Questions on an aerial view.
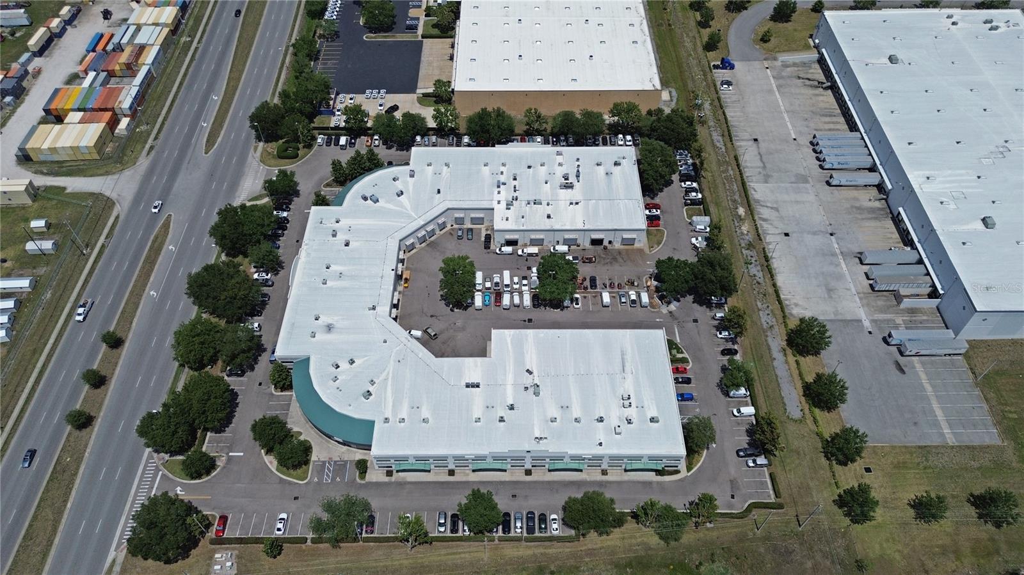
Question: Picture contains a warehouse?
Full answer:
Yes, looking at the shot, I can spot a warehouse.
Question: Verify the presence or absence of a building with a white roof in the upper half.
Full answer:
Yes, looking in the upper half, one can make out a building with a white roof.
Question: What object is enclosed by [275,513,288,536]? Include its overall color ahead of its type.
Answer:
white vehicle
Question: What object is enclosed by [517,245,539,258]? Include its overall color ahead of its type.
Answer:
white vehicle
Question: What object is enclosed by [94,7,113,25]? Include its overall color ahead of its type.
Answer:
black work vehicle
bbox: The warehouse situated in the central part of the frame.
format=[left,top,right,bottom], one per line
[275,144,686,470]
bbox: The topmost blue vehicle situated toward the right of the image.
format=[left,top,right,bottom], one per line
[713,57,734,70]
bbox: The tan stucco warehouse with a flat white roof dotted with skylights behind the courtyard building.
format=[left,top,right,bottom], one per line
[453,0,661,116]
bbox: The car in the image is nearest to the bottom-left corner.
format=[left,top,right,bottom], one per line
[21,447,37,468]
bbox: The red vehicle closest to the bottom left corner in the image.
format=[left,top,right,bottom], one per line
[214,515,229,537]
